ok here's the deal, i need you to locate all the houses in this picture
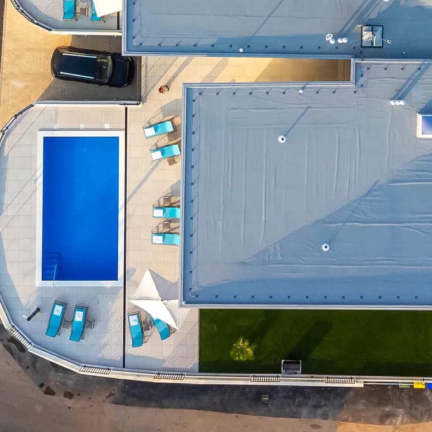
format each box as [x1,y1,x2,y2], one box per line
[180,60,432,308]
[123,0,432,58]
